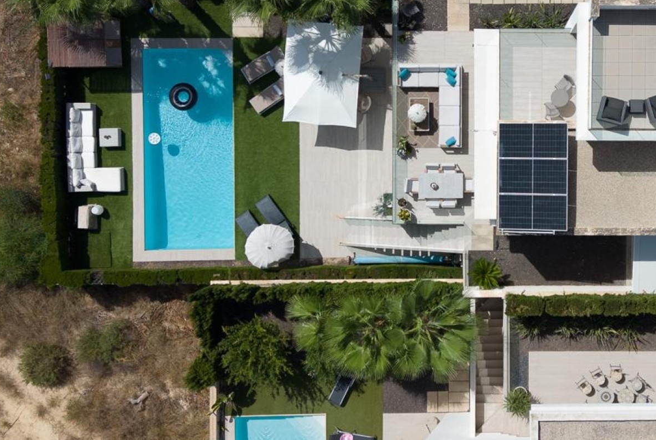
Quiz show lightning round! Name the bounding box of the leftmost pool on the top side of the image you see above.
[143,49,233,250]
